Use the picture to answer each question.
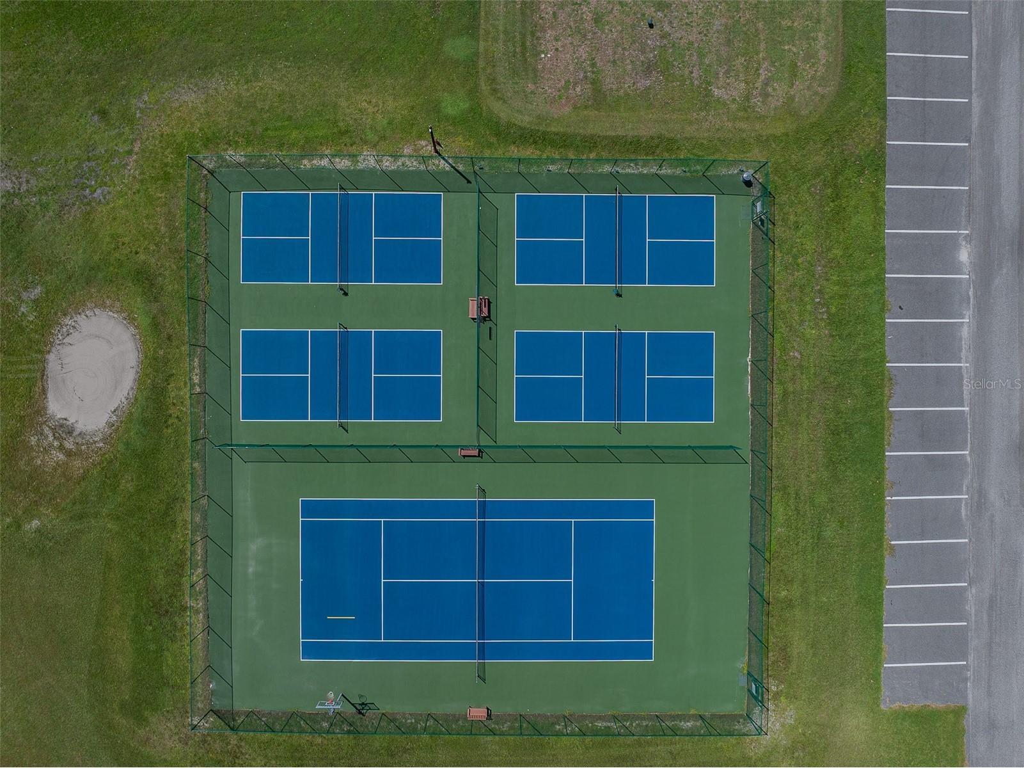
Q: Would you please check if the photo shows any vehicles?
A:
No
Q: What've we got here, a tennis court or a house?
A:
tennis court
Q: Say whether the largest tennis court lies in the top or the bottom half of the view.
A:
bottom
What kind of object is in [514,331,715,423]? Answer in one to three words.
sports court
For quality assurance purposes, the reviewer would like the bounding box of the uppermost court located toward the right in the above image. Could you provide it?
[515,194,715,286]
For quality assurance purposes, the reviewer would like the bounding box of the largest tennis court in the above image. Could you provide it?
[300,498,655,661]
